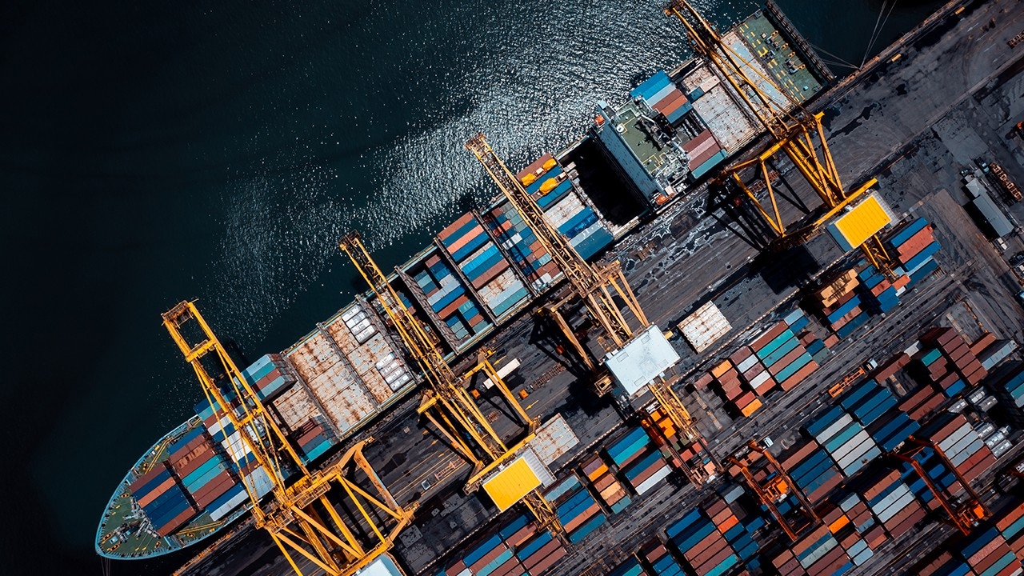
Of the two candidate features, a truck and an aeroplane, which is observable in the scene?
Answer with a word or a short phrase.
truck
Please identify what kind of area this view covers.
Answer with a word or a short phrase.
port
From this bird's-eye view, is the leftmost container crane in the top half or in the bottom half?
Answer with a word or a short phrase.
bottom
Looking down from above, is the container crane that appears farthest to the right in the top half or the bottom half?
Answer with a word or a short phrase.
bottom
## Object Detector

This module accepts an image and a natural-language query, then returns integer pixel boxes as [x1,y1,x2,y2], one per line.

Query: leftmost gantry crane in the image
[158,290,429,576]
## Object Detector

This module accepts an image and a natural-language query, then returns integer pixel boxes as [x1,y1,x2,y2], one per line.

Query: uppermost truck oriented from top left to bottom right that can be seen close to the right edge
[971,155,998,185]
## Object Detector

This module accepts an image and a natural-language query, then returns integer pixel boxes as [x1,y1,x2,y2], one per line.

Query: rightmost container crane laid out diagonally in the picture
[882,439,996,539]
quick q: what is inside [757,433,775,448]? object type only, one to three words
vehicle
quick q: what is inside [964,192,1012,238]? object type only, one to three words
shed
